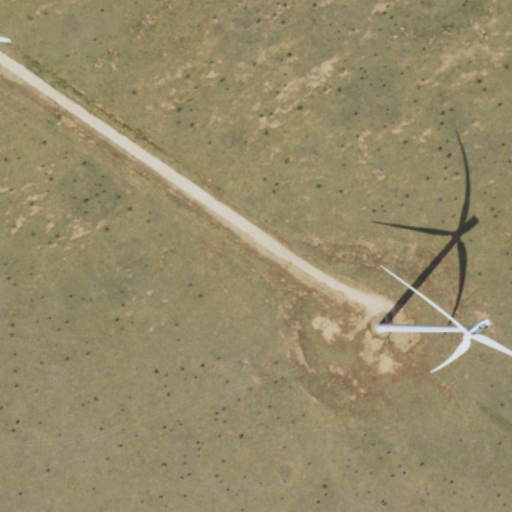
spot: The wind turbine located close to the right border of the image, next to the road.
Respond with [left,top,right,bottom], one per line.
[372,268,512,372]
